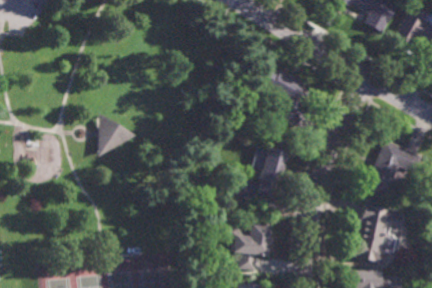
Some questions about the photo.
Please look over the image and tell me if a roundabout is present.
No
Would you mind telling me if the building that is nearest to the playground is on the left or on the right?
left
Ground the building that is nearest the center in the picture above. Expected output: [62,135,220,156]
[251,150,290,192]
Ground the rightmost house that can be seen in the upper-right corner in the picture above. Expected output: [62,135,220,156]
[390,10,428,45]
